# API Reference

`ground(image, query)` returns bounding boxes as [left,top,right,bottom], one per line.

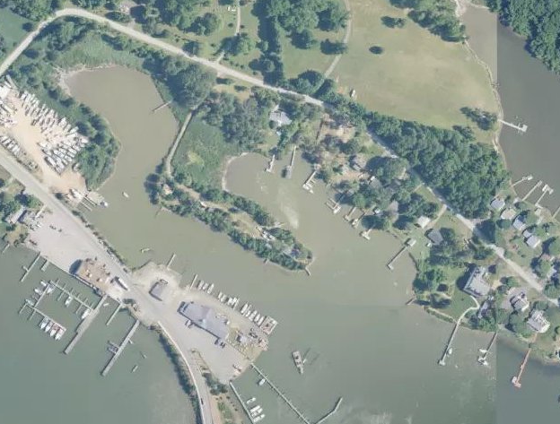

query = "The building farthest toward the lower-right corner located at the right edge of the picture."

[526,311,554,336]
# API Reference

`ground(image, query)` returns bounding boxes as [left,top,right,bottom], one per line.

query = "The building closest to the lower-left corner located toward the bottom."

[76,260,111,291]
